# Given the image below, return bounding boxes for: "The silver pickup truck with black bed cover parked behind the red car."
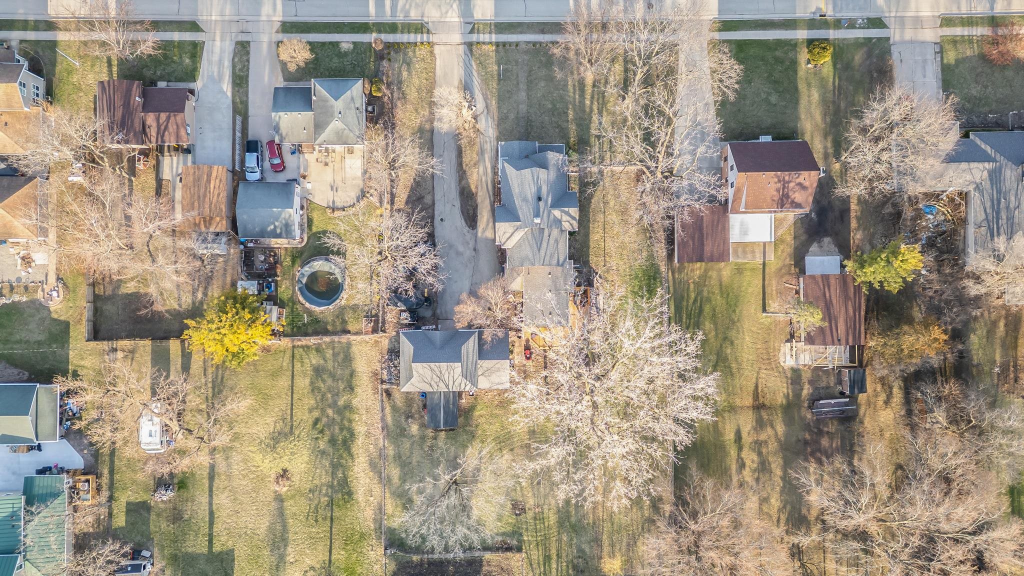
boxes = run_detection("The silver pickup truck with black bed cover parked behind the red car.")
[240,140,262,181]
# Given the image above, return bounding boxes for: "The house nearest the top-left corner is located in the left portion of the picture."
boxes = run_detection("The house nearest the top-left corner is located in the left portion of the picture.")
[0,47,61,155]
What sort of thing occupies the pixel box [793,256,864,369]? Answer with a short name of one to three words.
building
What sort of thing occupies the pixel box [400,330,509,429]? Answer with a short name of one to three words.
building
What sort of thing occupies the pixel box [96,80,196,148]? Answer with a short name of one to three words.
house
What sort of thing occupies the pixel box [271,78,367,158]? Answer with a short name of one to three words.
house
